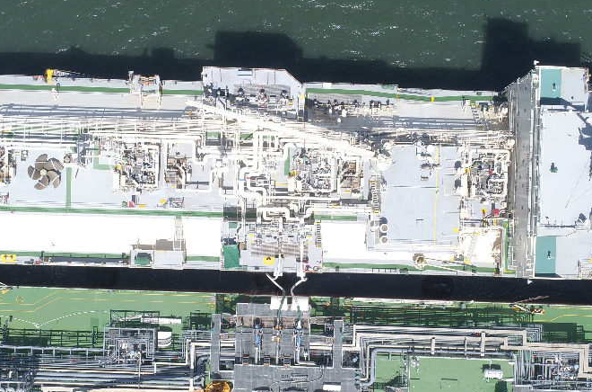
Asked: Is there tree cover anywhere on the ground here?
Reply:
No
